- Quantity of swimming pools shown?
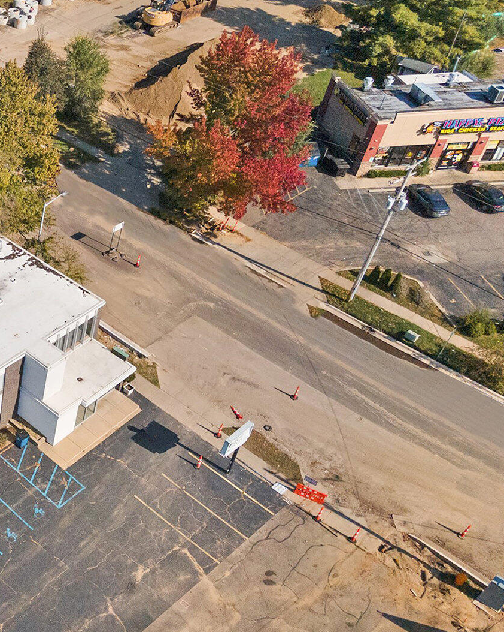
0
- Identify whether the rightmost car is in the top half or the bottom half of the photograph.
top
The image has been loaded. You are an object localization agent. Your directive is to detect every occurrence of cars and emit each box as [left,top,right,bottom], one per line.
[413,184,453,213]
[460,182,504,211]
